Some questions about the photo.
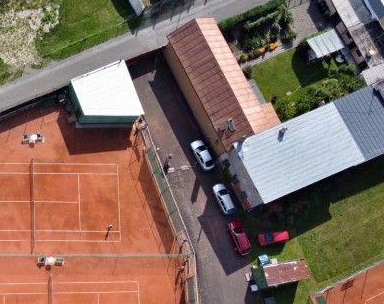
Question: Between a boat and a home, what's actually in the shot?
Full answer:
The one in the frame is a home.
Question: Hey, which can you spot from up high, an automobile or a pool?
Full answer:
This aerial view contains an automobile.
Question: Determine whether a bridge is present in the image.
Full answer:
No, there isn't any bridge down there.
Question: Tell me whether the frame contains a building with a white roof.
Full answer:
Yes, the image includes a building with a white roof.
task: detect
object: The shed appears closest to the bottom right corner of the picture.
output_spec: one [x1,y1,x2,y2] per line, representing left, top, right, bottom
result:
[245,258,311,290]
